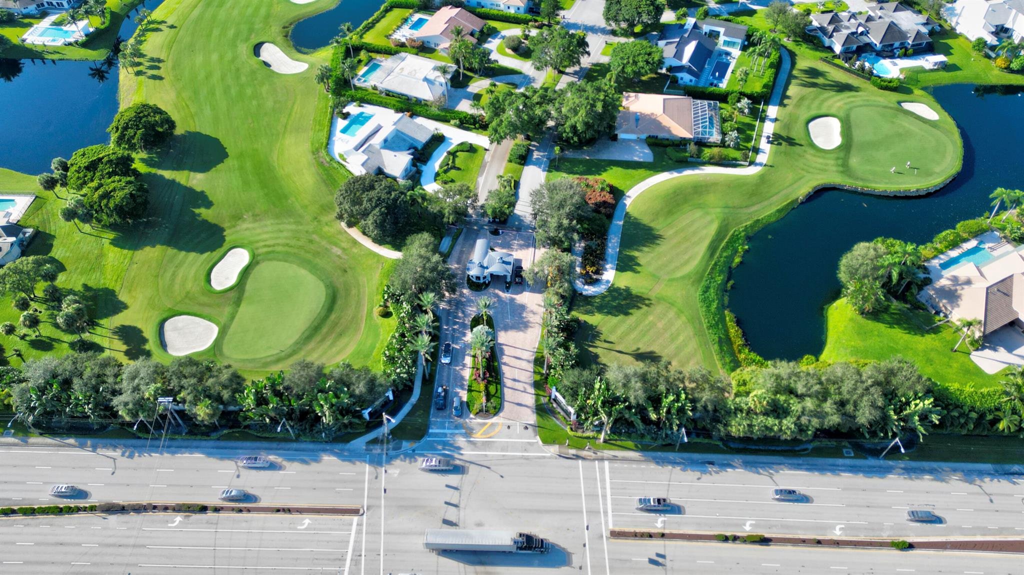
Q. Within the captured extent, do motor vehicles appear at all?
Yes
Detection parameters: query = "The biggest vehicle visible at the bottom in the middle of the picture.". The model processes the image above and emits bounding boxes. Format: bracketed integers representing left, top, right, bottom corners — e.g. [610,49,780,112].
[423,534,548,558]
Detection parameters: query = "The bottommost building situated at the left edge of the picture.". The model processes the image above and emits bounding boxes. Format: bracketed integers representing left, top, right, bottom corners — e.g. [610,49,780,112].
[0,225,37,268]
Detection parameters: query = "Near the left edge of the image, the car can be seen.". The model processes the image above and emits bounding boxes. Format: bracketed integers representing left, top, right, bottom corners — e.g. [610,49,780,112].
[49,486,78,498]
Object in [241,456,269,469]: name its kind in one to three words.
vehicle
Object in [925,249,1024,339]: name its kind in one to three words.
house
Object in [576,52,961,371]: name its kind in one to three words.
golf course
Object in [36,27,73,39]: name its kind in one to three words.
swimming pool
